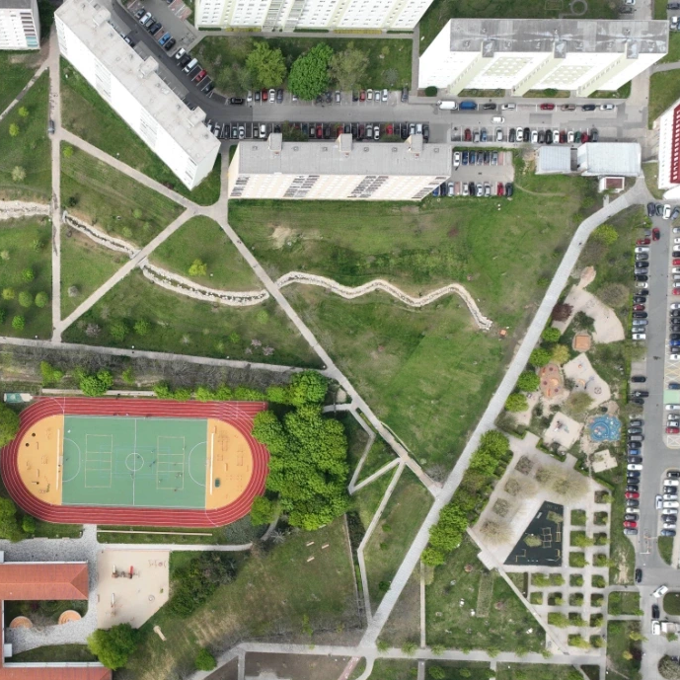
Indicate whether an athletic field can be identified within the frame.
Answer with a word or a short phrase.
Yes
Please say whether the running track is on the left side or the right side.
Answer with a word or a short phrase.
left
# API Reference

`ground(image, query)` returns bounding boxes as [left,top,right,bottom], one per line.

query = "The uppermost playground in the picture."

[540,363,563,398]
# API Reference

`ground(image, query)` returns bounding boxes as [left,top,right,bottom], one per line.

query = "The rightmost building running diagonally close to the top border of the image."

[54,0,221,190]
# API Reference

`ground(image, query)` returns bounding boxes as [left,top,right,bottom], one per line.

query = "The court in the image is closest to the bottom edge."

[504,501,564,567]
